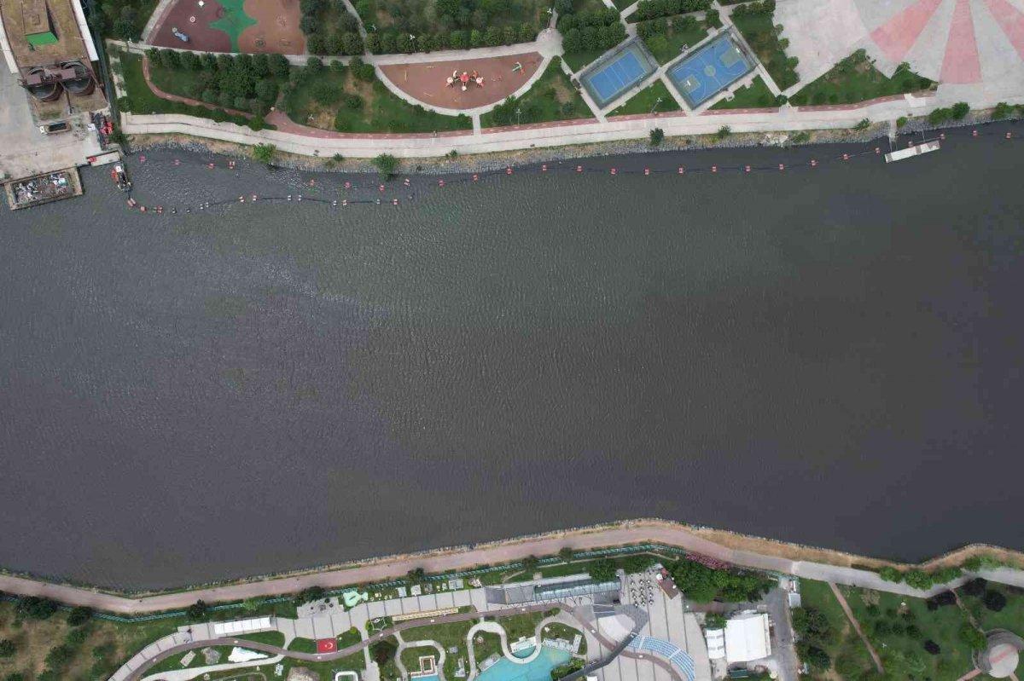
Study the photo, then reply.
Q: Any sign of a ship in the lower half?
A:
No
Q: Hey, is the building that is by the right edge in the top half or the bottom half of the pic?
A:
bottom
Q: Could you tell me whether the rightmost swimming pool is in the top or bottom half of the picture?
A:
bottom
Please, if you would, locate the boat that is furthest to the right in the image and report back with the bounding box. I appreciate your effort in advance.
[117,165,140,202]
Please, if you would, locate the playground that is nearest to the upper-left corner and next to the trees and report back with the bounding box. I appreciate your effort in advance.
[151,0,305,54]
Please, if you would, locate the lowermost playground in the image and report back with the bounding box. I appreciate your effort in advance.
[378,51,544,110]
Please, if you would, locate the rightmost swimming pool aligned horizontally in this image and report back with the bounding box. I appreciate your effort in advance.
[478,644,572,681]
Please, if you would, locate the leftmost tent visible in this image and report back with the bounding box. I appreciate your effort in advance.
[597,613,635,641]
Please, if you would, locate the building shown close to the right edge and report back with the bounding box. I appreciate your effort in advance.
[984,644,1019,676]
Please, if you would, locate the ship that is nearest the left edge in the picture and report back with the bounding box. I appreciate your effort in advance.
[4,167,85,210]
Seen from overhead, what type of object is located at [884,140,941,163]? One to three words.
pier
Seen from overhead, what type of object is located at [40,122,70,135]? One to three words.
vehicle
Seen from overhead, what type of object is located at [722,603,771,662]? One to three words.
building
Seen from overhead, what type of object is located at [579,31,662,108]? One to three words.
sports court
